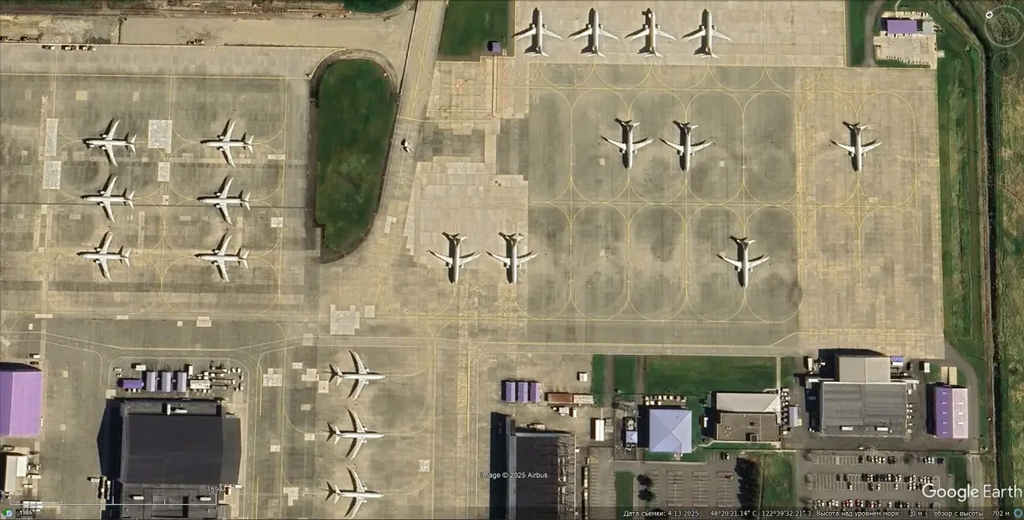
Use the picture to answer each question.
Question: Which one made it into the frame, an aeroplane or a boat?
aeroplane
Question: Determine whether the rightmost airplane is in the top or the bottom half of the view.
top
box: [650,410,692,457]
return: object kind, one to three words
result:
building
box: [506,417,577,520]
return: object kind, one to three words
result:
hangar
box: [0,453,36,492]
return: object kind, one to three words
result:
building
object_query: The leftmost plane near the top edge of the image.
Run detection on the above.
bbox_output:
[517,7,565,58]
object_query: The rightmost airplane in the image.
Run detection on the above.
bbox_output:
[836,121,885,172]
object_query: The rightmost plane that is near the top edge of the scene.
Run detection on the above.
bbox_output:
[686,8,733,59]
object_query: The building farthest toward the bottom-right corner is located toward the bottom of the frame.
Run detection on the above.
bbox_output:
[936,388,969,439]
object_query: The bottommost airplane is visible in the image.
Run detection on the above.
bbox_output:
[332,471,383,519]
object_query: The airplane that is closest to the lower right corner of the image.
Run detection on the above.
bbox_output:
[722,236,769,287]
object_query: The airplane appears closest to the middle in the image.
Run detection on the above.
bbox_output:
[491,233,538,283]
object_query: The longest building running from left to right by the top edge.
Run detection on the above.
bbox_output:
[887,19,918,33]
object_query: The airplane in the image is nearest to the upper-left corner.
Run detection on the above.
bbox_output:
[86,120,136,167]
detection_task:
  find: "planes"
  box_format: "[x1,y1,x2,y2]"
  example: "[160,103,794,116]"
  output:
[431,233,480,284]
[203,120,254,166]
[607,118,654,169]
[686,8,733,59]
[491,233,538,283]
[197,234,248,282]
[332,471,383,519]
[664,120,712,171]
[86,120,136,167]
[83,175,134,222]
[836,121,885,172]
[629,8,678,58]
[572,8,621,58]
[332,412,383,460]
[200,176,251,225]
[722,236,769,287]
[517,7,565,58]
[334,352,385,401]
[80,232,130,280]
